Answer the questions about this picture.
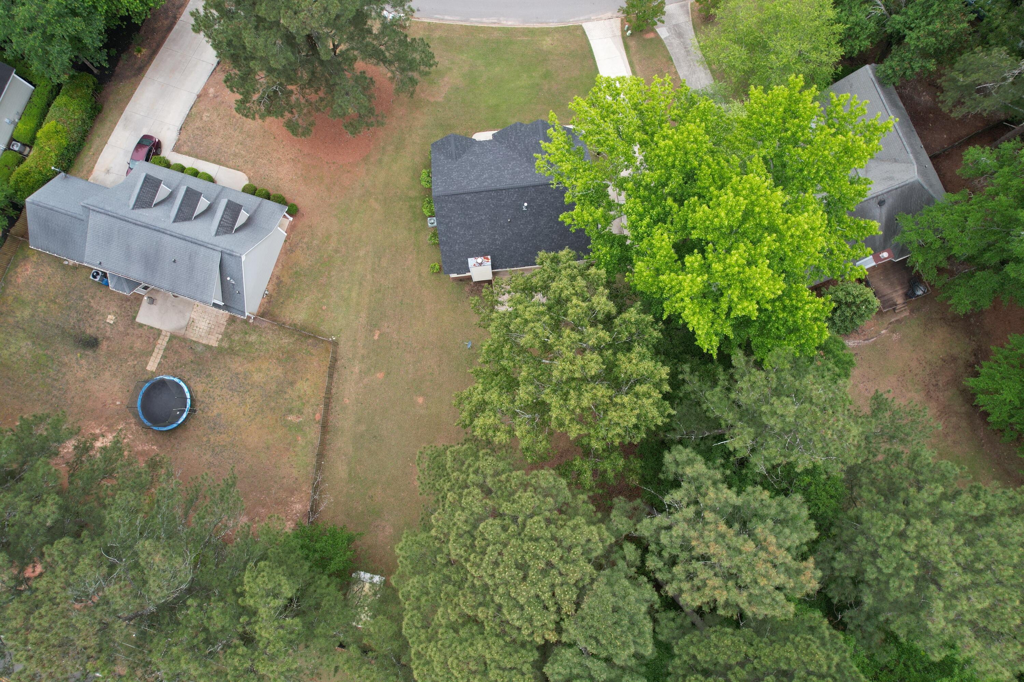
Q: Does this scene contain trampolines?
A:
Yes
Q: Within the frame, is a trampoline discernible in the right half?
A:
No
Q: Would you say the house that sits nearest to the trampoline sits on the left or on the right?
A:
left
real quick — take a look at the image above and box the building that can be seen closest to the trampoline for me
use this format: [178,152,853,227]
[25,160,294,322]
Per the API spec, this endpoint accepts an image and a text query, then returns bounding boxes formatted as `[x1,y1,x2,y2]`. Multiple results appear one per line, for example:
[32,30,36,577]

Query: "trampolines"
[126,377,198,432]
